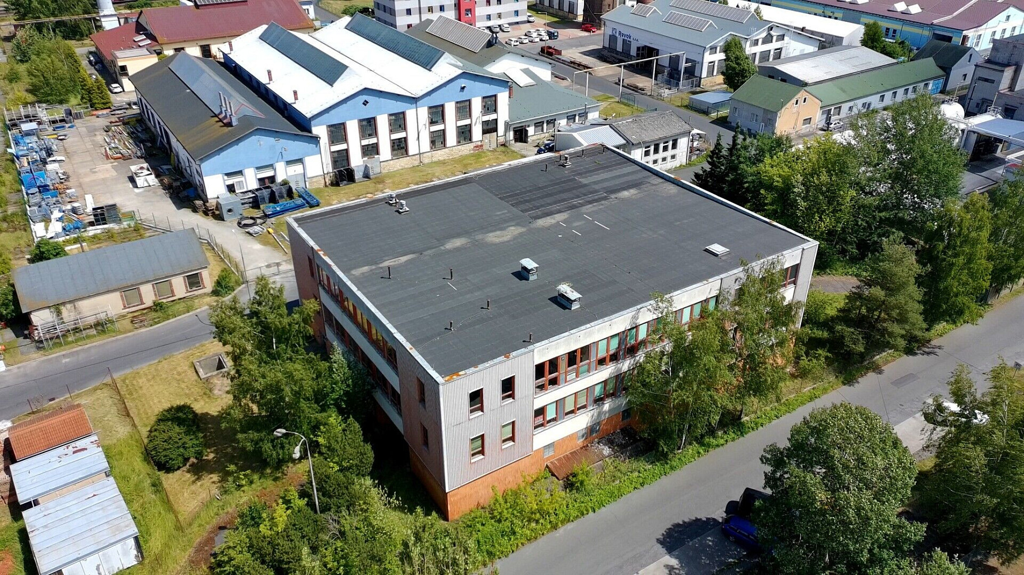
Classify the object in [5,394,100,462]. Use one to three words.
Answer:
shed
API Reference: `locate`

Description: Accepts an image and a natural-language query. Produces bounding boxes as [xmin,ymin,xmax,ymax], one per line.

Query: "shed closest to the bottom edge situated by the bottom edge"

[22,472,141,575]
